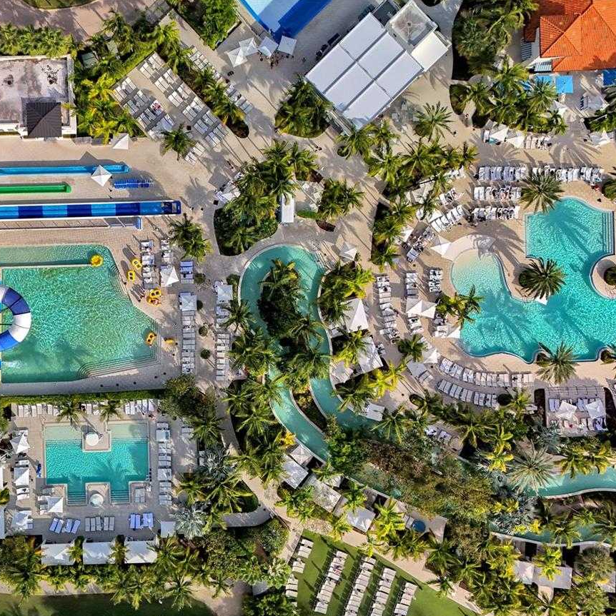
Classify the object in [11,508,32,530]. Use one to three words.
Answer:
umbrella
